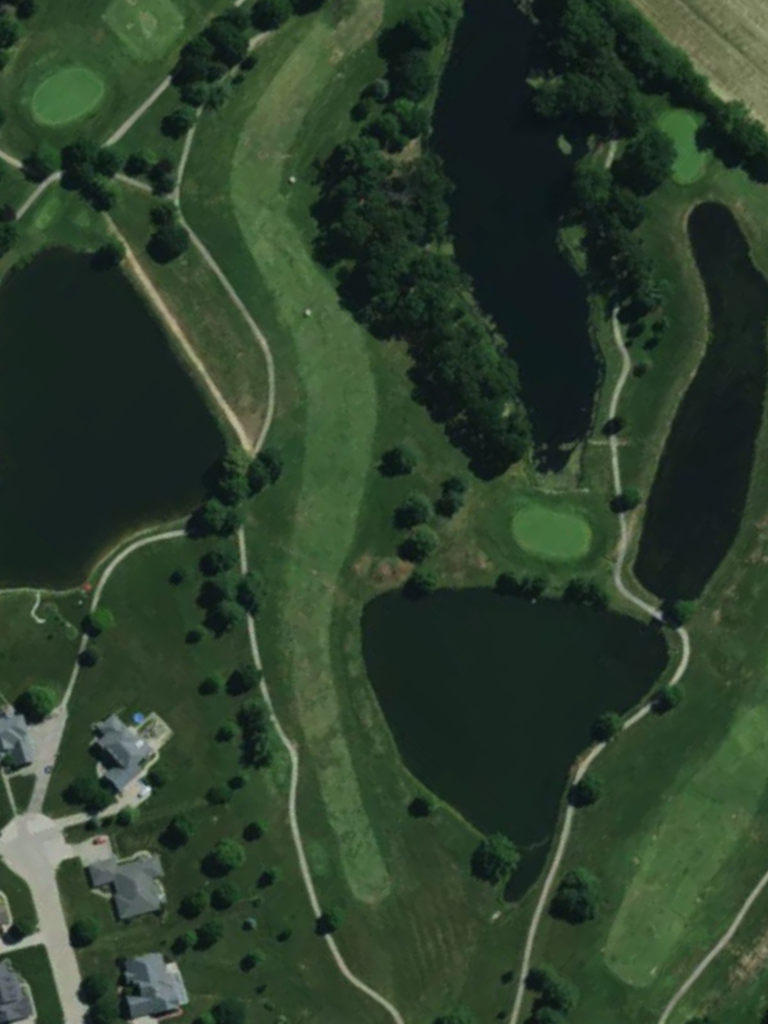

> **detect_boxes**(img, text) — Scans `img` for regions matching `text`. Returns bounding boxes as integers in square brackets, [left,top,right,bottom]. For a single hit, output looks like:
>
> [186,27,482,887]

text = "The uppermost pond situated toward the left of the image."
[0,248,225,593]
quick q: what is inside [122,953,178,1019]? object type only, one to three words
house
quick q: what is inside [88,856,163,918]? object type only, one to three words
house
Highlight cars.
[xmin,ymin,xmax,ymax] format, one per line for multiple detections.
[139,785,152,797]
[92,837,106,844]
